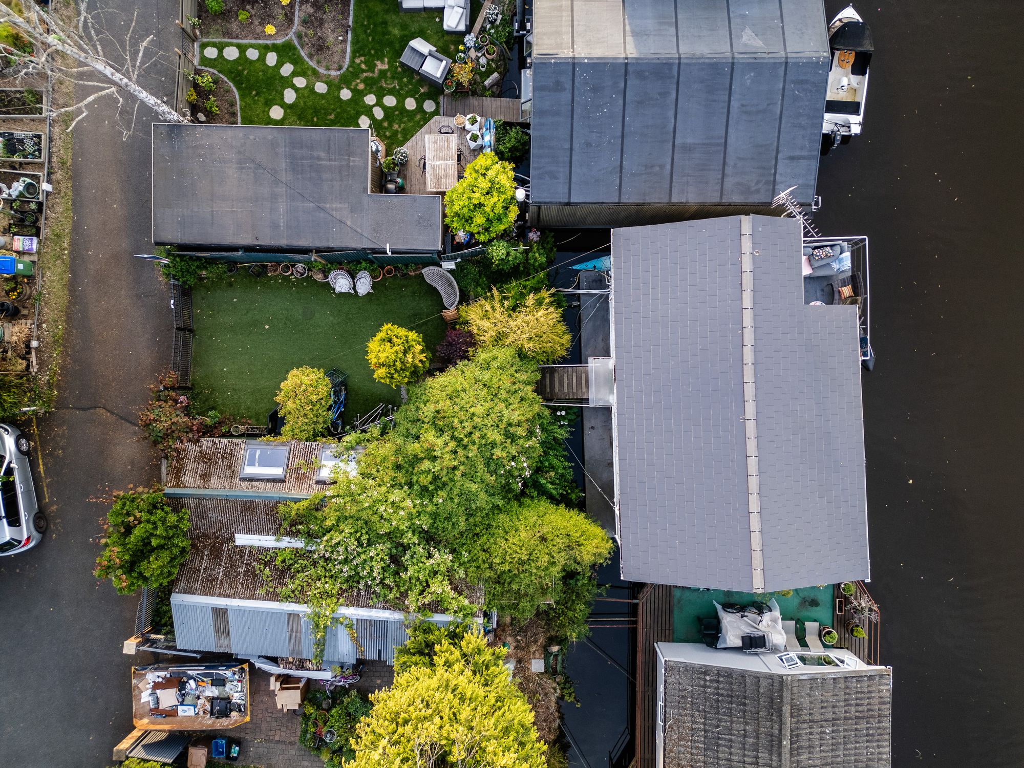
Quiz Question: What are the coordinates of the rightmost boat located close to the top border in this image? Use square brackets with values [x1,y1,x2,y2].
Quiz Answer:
[823,2,876,149]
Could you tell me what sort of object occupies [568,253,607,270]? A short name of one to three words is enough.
boat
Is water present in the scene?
Yes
